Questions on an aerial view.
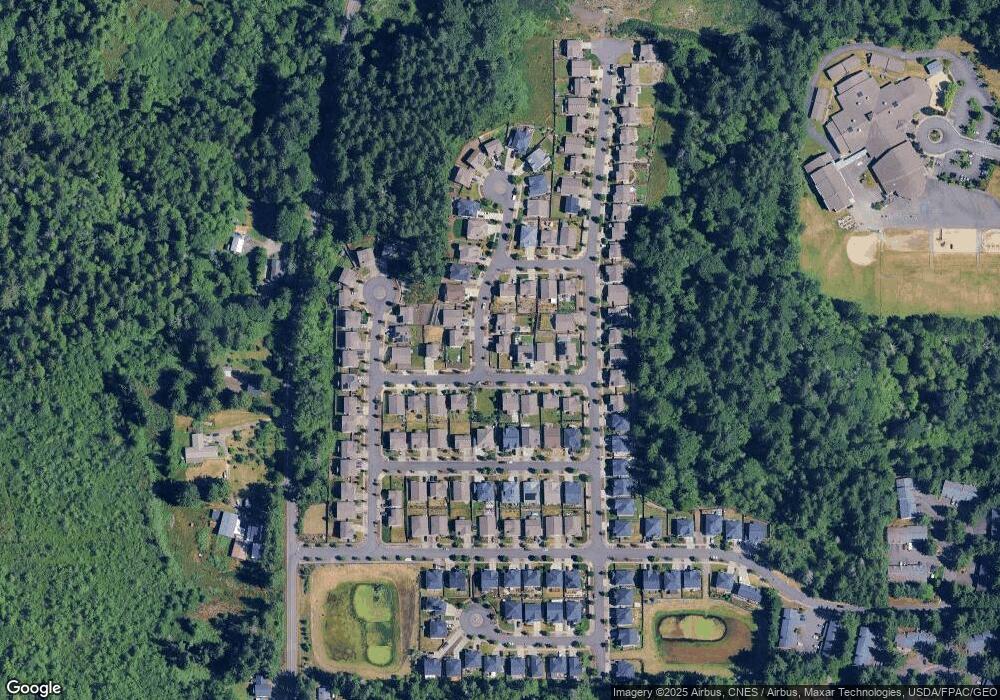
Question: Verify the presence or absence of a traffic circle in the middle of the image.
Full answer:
No, looking in the middle of the image, there is no traffic circle.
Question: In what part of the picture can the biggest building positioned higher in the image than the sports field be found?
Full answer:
Look in the top right portion of the view to spot the biggest building positioned higher in the image than the sports field.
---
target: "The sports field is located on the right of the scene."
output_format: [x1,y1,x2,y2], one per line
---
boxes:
[847,233,880,266]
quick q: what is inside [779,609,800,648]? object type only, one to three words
building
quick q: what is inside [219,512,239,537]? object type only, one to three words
barn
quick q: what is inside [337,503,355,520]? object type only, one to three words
house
